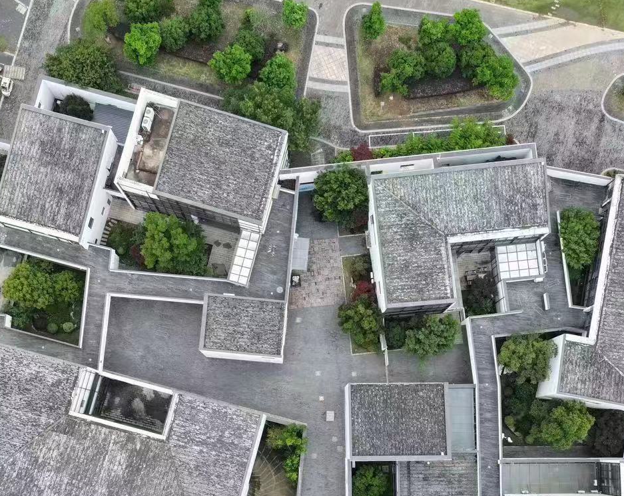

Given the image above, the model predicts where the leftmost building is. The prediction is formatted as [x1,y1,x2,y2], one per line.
[0,103,118,249]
